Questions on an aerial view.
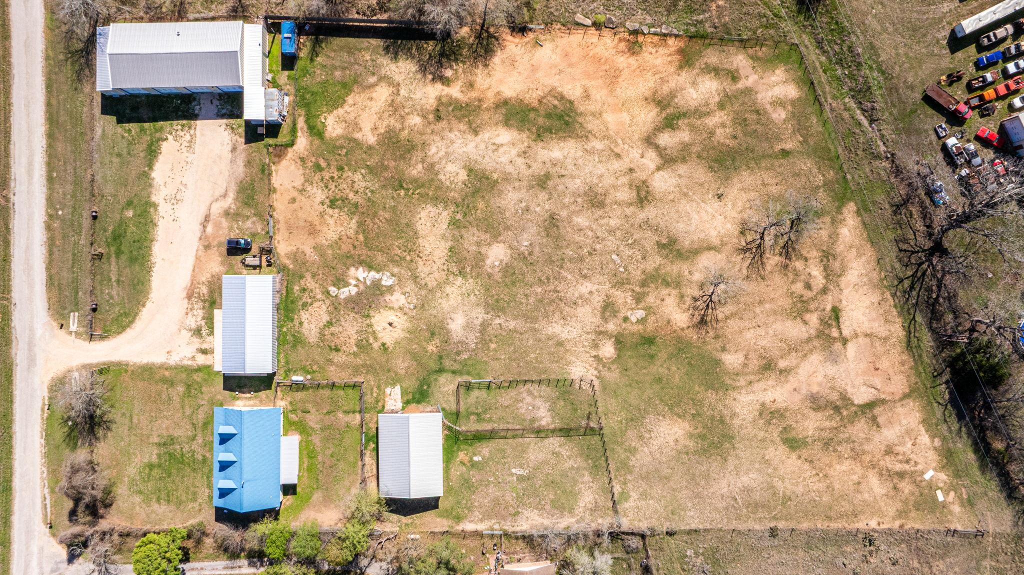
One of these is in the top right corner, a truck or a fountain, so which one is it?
truck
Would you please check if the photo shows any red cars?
Yes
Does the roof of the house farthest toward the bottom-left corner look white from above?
No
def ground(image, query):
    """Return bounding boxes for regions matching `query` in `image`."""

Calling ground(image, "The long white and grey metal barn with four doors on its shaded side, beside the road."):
[95,21,268,122]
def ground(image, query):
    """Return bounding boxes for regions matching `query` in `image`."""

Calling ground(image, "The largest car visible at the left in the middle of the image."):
[225,238,251,250]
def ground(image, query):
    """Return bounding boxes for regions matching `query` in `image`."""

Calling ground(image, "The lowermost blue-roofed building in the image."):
[212,405,298,512]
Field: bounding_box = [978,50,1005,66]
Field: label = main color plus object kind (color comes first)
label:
blue car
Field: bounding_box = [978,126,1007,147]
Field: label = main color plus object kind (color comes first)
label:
red car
